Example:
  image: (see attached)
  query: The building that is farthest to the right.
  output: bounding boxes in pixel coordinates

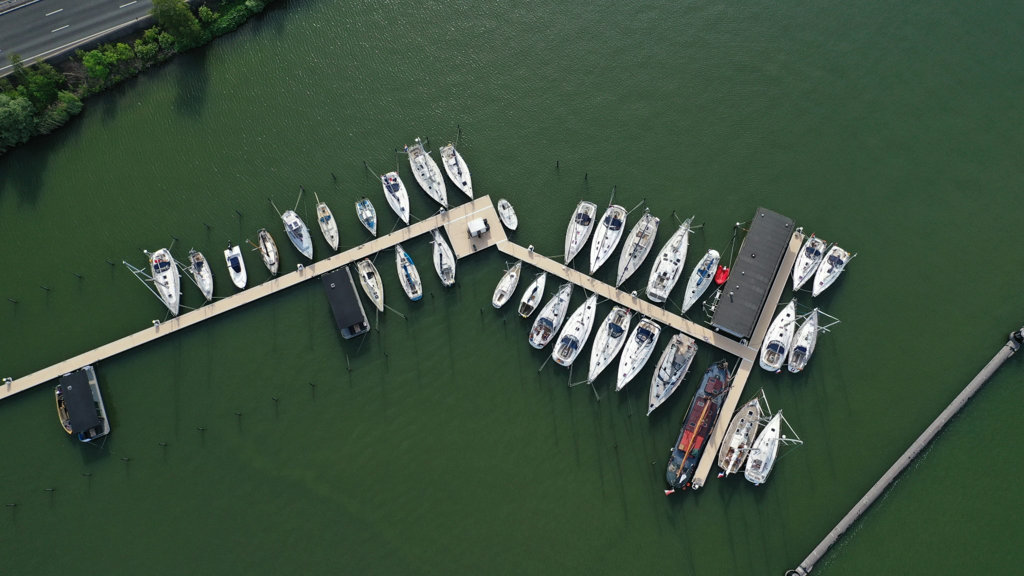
[704,206,796,341]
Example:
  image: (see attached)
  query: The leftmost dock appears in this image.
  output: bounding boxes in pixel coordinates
[692,358,752,486]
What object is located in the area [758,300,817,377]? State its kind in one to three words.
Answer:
boat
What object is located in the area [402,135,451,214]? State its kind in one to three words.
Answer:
boat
